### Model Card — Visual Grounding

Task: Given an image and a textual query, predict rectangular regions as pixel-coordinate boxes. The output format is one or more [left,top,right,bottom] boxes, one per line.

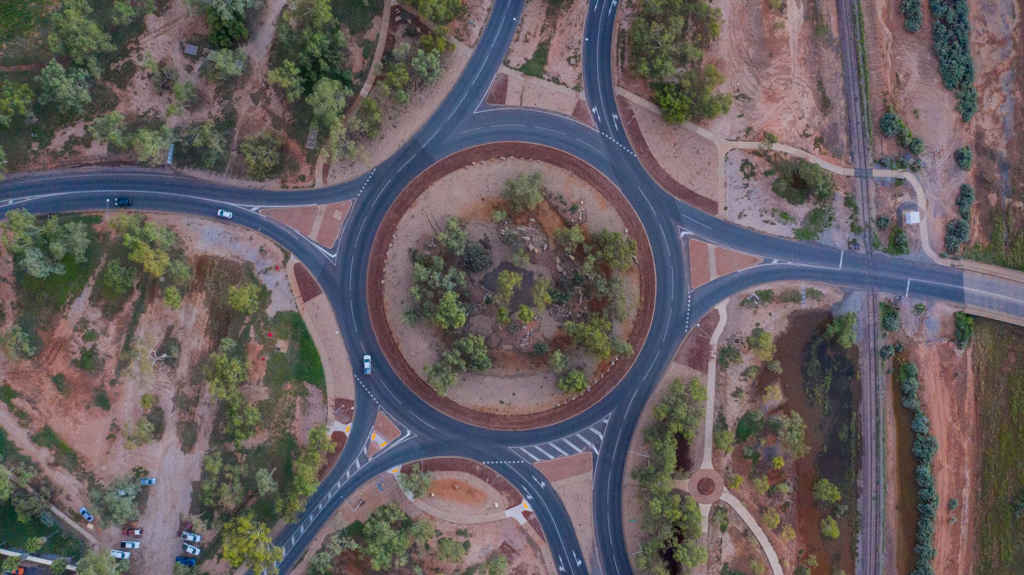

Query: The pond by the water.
[755,306,857,575]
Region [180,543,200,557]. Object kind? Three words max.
vehicle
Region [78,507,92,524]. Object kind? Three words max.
car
